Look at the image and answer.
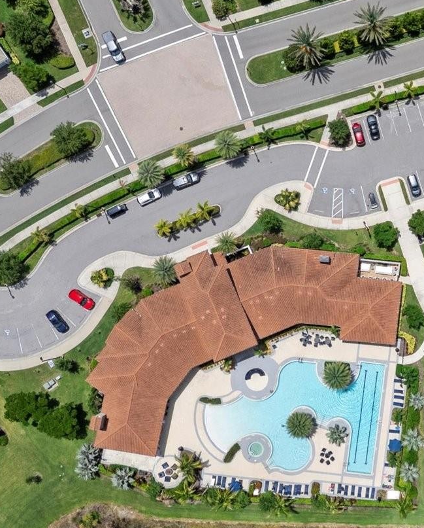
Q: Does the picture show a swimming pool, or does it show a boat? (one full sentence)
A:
Visible in the photo is a swimming pool.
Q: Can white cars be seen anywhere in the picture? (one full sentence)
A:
Yes, looking at the shot, I can spot a white car.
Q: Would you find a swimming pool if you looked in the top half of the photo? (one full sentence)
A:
No, there's no swimming pool to be seen in the top half of the photo.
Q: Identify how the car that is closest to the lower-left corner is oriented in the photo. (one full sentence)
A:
The car that is closest to the lower-left corner has been laid out at an angle relative to the frame.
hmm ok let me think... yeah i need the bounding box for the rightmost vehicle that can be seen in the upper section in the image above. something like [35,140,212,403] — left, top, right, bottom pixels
[407,173,422,199]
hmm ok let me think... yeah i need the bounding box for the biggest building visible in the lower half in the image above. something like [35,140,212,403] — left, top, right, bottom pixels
[85,246,403,457]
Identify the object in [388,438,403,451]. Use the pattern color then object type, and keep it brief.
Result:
blue umbrella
